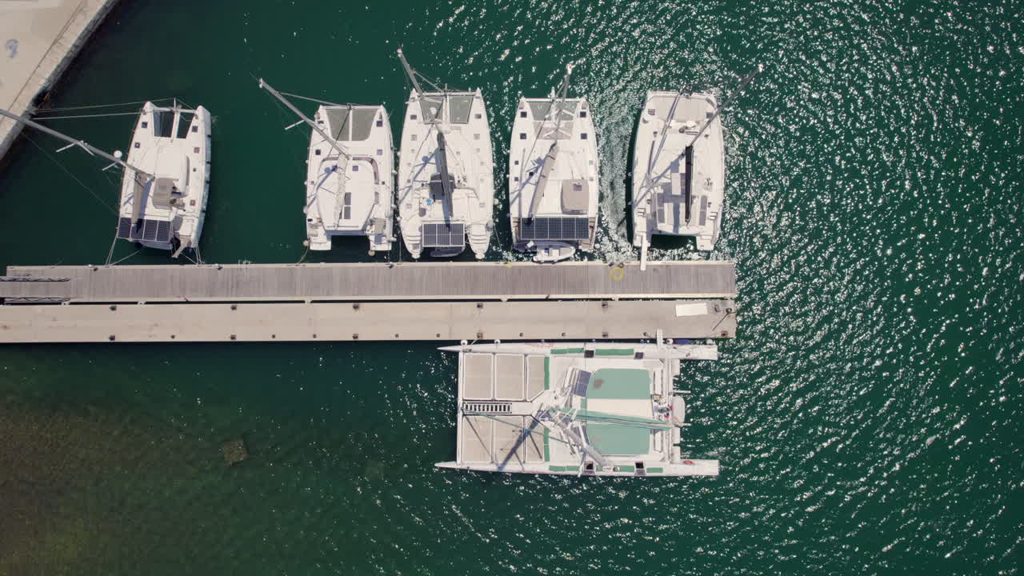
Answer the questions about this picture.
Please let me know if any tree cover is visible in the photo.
No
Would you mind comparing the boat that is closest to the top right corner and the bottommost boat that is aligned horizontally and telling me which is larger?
the bottommost boat that is aligned horizontally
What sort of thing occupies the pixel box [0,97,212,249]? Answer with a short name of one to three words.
boat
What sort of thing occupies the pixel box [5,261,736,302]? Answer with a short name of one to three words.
pier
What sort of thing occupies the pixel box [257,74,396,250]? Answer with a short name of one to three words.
boat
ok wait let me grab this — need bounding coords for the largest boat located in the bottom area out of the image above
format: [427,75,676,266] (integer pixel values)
[434,343,717,477]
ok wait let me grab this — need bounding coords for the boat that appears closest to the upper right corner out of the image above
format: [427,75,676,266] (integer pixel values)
[630,59,764,257]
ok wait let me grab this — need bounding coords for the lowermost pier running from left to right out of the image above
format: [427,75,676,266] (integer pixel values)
[0,297,737,342]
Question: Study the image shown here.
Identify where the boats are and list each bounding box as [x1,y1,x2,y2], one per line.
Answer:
[396,43,494,262]
[510,59,598,250]
[138,236,178,253]
[434,343,717,477]
[0,97,212,249]
[257,74,396,250]
[525,243,576,262]
[630,59,764,257]
[431,246,465,259]
[674,396,685,422]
